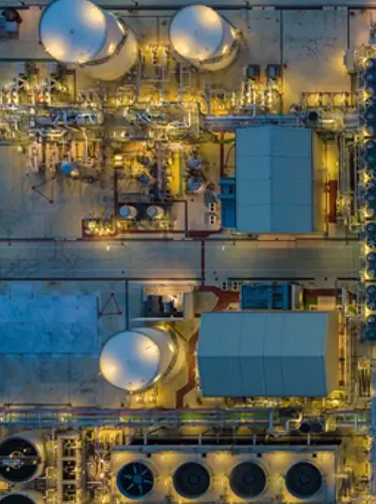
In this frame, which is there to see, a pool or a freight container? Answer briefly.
freight container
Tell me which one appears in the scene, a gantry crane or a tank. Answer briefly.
tank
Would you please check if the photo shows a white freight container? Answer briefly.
No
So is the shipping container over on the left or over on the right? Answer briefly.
right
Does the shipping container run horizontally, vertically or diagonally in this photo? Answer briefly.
horizontally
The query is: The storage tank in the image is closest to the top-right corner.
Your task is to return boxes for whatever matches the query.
[167,0,244,73]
